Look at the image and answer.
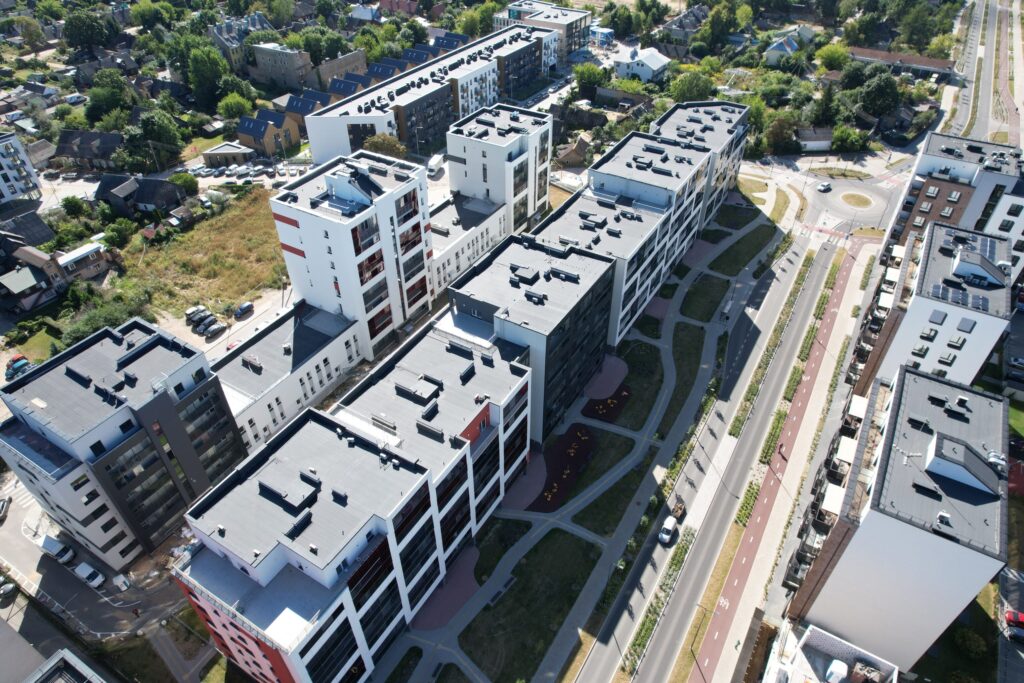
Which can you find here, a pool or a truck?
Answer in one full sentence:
This aerial view contains a truck.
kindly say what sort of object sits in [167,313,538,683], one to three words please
building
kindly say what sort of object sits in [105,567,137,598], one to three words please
car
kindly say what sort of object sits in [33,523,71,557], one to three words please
truck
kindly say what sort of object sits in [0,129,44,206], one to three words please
building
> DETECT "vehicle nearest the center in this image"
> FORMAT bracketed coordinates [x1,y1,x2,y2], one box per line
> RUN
[427,152,441,172]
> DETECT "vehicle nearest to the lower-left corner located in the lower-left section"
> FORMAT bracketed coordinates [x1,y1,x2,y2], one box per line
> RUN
[0,572,28,606]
